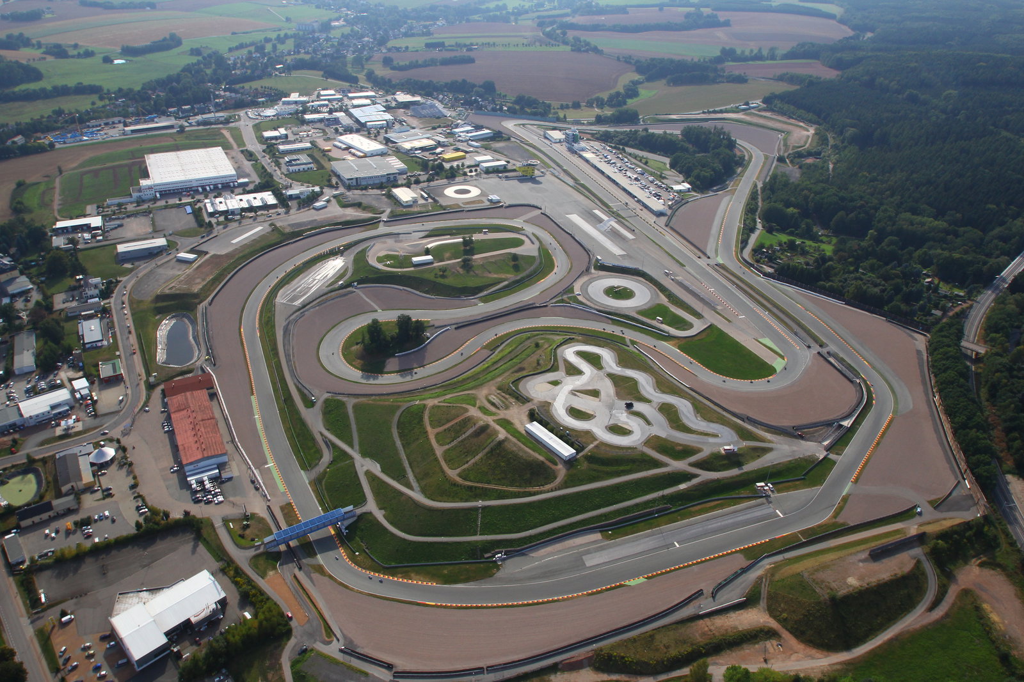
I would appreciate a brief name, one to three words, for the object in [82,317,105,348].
building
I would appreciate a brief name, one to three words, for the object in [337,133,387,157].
building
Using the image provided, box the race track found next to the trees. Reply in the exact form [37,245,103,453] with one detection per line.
[244,118,894,603]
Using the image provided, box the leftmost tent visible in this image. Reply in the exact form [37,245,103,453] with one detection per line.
[90,447,118,469]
